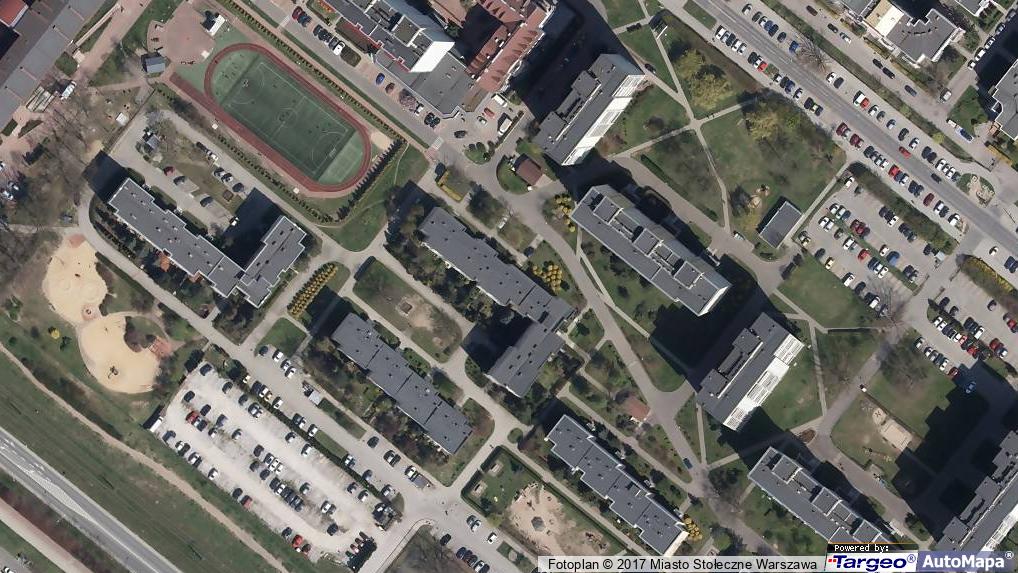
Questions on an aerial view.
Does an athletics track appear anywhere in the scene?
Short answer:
Yes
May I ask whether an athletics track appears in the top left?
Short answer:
Yes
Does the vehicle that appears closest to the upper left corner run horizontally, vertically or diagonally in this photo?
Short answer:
diagonally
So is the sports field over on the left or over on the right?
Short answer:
left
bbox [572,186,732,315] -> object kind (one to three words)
building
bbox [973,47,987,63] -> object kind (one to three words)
vehicle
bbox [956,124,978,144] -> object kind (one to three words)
vehicle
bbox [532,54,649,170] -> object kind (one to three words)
building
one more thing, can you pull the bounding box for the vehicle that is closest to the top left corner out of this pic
[58,80,79,101]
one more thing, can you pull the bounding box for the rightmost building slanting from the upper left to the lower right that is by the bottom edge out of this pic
[749,447,912,573]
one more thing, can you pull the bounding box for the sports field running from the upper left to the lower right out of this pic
[212,50,363,184]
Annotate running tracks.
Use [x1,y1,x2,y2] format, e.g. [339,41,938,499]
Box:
[170,42,371,192]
